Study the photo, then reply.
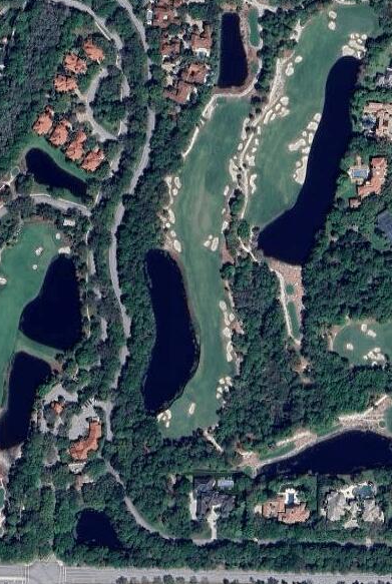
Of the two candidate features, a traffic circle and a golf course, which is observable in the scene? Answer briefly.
golf course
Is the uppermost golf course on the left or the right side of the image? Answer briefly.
right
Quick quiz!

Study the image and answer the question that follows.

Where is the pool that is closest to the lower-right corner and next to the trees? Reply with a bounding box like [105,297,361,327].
[352,484,375,499]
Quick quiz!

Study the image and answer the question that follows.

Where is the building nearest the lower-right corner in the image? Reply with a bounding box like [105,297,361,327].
[345,497,385,527]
